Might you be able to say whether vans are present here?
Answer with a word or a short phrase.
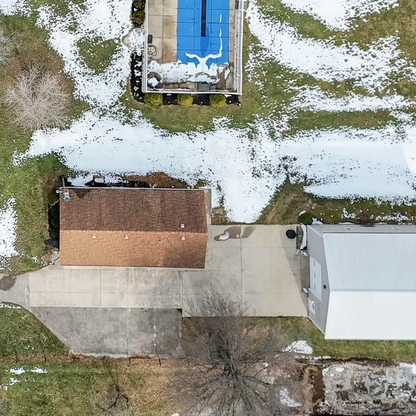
No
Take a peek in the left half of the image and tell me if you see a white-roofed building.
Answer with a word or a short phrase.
No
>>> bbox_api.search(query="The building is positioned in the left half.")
[59,185,210,269]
